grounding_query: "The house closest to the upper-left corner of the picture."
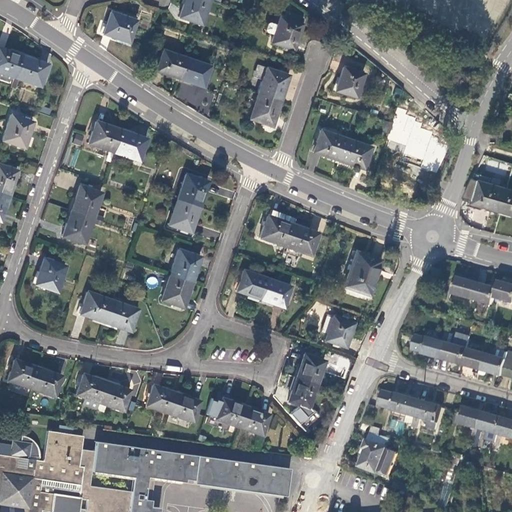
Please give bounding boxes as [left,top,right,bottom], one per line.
[0,45,51,88]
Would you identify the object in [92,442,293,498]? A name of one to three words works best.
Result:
building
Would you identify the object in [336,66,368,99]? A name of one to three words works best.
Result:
house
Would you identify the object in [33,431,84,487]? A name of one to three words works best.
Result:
building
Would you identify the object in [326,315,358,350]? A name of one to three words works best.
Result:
house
